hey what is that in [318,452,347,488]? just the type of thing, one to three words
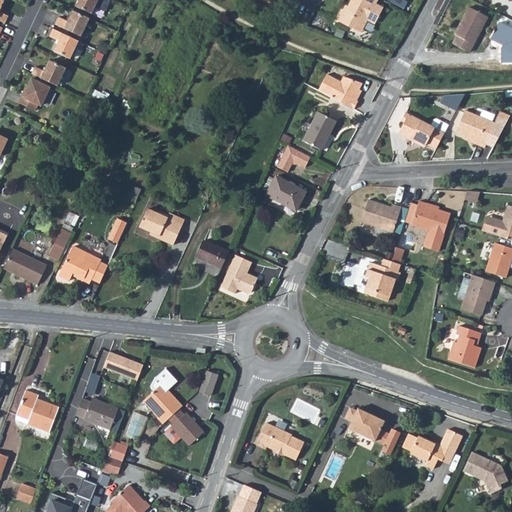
swimming pool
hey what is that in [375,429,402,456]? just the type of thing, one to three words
house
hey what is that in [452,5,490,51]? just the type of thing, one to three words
house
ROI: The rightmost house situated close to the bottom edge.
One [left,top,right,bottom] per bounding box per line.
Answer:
[464,452,510,492]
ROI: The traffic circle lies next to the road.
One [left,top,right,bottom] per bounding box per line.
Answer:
[235,306,308,379]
